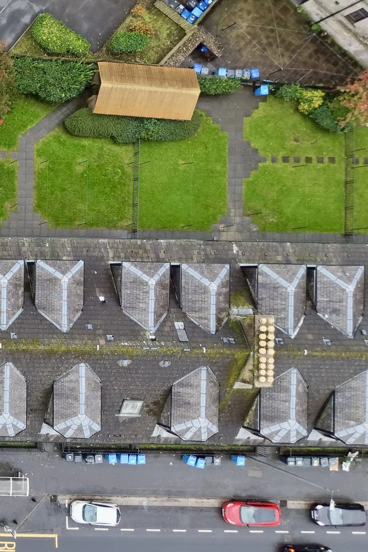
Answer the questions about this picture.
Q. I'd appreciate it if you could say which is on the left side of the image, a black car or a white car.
white car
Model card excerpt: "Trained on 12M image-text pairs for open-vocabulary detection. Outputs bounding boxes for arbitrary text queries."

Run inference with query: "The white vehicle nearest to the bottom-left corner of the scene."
[68,498,122,527]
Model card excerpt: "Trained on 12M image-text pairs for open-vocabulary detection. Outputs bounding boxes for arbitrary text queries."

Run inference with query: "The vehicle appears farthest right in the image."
[307,501,368,529]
